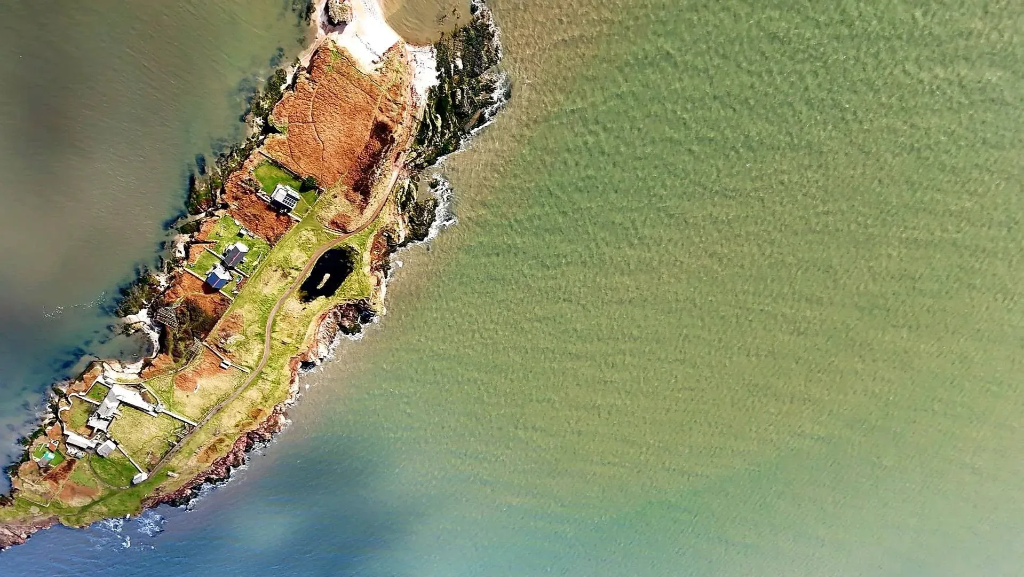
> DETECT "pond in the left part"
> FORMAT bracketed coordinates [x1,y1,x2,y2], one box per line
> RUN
[298,245,353,301]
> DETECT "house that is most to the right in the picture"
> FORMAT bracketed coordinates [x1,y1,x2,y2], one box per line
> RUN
[270,188,300,214]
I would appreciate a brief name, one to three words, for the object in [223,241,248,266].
house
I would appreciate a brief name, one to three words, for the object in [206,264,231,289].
house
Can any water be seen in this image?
Yes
